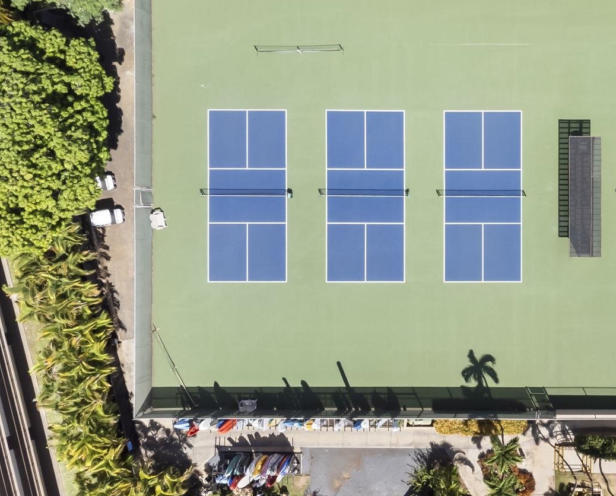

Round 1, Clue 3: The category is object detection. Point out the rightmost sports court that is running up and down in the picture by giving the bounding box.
[444,110,522,282]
